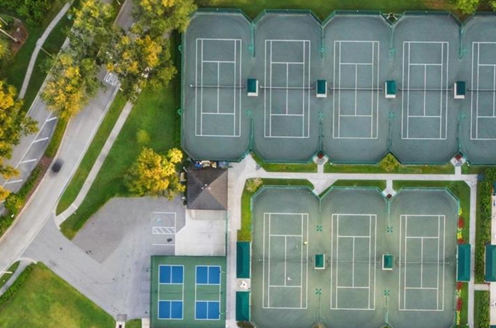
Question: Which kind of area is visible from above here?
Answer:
sports ground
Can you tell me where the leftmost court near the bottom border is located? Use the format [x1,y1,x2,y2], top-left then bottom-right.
[151,256,189,328]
